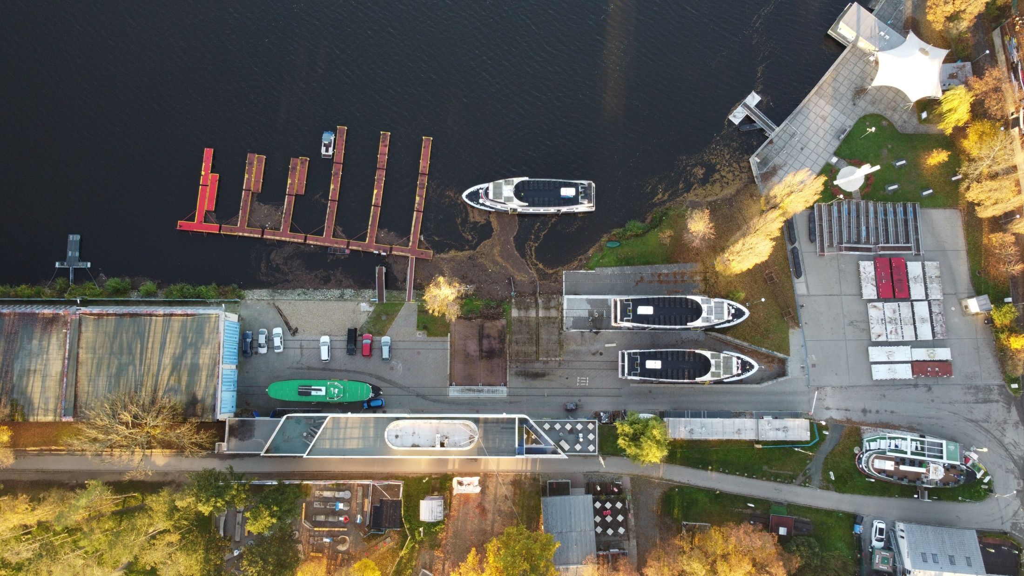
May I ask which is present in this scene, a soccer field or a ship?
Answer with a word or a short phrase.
ship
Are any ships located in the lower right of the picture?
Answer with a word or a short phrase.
Yes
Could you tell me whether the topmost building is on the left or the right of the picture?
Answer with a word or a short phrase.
right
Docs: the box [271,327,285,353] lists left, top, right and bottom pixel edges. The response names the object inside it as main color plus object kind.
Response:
white car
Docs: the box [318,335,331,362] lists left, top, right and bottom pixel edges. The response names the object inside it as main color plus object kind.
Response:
white vehicle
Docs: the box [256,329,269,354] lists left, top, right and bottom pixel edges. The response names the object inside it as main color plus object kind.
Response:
white vehicle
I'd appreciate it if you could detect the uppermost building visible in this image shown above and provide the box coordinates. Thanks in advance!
[824,2,906,62]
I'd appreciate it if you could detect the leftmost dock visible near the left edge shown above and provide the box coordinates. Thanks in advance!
[46,234,98,289]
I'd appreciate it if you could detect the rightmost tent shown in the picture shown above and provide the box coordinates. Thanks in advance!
[848,30,950,121]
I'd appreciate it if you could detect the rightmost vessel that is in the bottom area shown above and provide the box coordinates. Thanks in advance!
[849,433,975,501]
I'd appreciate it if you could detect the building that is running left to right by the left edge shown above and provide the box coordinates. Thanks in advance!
[0,306,252,421]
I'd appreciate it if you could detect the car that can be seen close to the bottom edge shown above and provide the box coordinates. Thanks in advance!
[870,518,887,549]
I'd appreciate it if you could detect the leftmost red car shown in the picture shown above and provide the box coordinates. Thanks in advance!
[361,333,373,358]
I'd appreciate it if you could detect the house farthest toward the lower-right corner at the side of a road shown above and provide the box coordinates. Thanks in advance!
[886,522,987,576]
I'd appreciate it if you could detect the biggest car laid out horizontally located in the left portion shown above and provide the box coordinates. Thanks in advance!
[363,398,386,410]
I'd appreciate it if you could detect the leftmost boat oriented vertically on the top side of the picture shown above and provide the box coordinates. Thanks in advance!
[322,132,335,160]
